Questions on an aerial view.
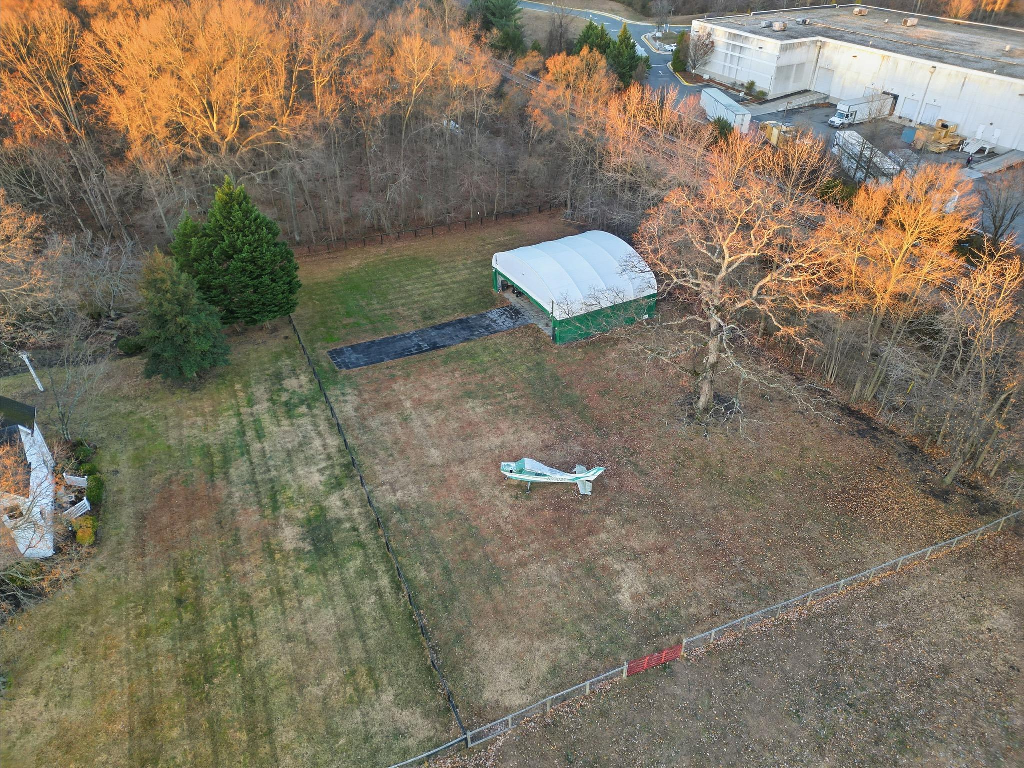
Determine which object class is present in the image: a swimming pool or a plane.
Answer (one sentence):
There is a plane in the scene.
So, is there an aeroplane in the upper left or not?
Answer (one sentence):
No, looking in the upper left, there is no aeroplane.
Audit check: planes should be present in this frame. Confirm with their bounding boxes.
[501,457,619,496]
